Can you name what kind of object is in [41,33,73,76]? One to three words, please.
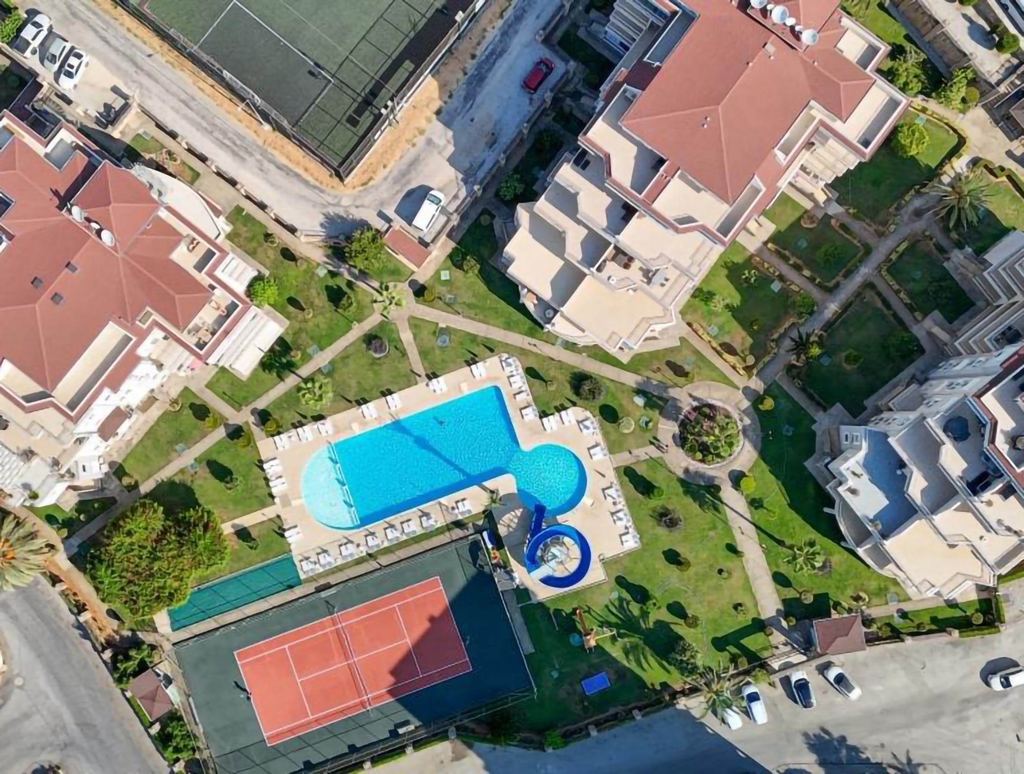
car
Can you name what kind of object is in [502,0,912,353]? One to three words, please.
building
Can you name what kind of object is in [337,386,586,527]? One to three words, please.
swimming pool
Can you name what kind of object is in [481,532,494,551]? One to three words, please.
umbrella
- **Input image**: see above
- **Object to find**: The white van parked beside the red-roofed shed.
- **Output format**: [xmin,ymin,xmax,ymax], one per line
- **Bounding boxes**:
[410,188,444,232]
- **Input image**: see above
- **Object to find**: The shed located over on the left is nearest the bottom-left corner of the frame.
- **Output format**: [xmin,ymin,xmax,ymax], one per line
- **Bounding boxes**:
[127,665,181,722]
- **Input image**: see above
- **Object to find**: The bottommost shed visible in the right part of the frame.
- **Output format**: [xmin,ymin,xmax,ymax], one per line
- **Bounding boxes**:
[807,611,867,655]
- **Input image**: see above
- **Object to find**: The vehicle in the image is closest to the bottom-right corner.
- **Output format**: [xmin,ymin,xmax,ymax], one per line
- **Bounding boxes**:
[985,665,1024,691]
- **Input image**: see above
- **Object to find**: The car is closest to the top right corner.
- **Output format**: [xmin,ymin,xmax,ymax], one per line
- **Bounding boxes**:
[522,58,554,95]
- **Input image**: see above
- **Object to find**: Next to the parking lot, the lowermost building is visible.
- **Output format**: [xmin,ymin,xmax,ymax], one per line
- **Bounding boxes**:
[0,108,287,507]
